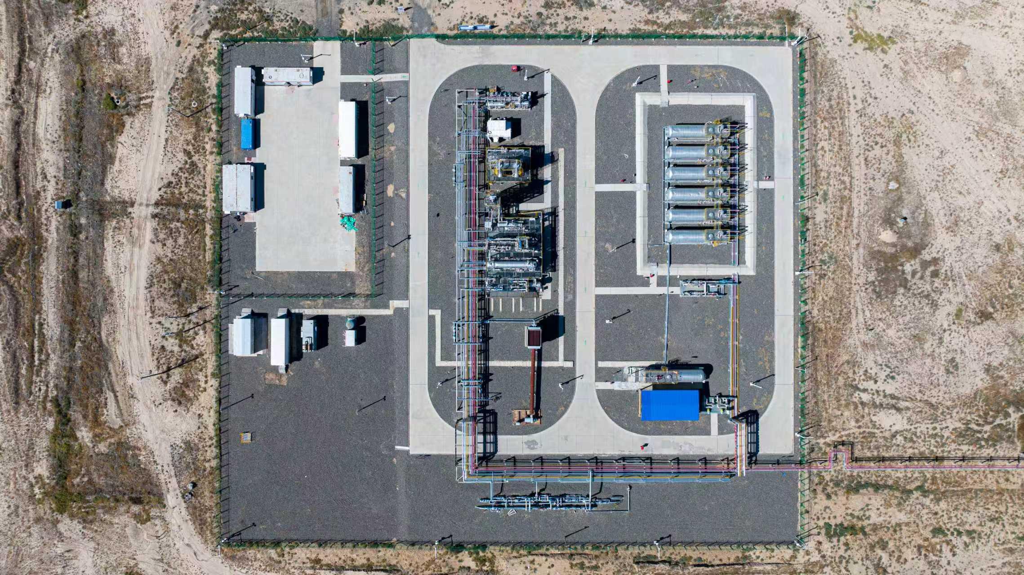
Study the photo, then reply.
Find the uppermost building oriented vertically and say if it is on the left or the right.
left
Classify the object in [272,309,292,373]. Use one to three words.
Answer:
house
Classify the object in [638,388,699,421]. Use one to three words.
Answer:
shed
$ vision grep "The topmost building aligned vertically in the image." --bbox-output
[235,66,256,117]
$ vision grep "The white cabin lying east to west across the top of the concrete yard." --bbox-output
[262,67,314,86]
